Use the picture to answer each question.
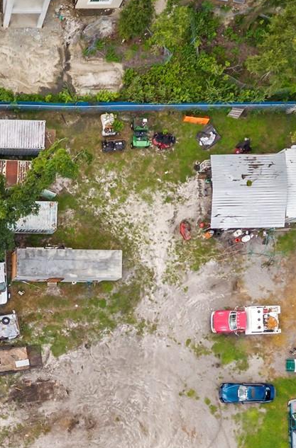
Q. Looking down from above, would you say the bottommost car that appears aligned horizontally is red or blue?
blue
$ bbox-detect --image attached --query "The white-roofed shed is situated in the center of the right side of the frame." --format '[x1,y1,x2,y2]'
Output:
[201,146,296,232]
